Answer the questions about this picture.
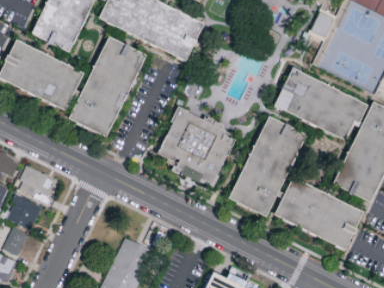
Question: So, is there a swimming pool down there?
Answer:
Yes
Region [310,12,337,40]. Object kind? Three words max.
building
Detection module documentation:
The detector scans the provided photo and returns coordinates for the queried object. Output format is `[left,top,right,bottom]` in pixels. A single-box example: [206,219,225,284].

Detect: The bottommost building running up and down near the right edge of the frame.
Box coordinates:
[336,102,384,202]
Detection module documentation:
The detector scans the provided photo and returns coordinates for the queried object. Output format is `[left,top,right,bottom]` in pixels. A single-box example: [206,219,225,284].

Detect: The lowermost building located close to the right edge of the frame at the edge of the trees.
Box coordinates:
[275,182,365,252]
